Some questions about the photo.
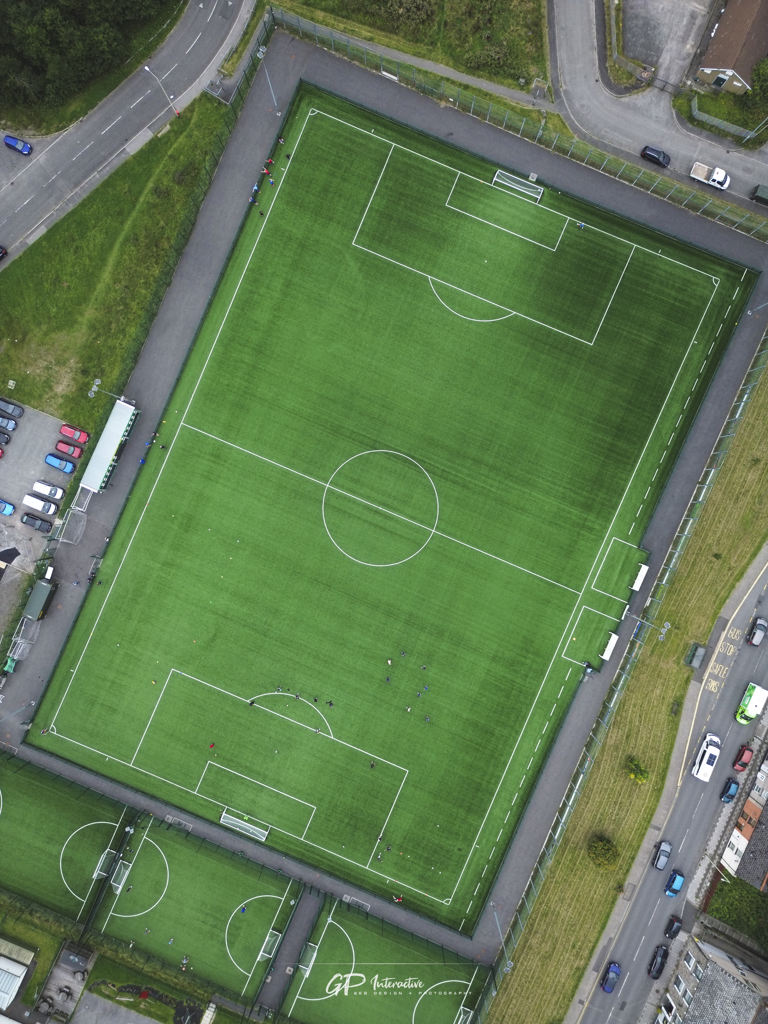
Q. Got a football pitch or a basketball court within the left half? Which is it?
football pitch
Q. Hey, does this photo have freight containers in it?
Yes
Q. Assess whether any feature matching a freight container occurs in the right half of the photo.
No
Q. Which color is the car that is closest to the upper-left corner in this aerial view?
blue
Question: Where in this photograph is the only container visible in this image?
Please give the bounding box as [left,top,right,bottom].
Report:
[22,578,59,621]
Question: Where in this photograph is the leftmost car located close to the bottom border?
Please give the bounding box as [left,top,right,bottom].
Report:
[601,961,619,992]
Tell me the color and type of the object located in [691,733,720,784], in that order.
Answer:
white vehicle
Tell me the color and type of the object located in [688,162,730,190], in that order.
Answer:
white truck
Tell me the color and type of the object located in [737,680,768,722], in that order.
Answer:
white van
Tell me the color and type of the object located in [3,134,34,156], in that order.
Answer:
blue car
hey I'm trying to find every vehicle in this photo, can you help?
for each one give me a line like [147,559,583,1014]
[0,429,11,444]
[58,423,90,444]
[0,414,17,431]
[747,618,766,646]
[639,145,671,169]
[0,397,25,416]
[33,479,65,500]
[652,840,670,871]
[601,961,619,992]
[733,745,753,771]
[664,914,683,939]
[720,777,740,803]
[54,439,84,458]
[737,680,768,722]
[44,453,76,473]
[21,493,58,515]
[20,512,52,533]
[3,134,34,156]
[691,733,720,784]
[664,870,684,896]
[0,500,16,516]
[688,162,730,190]
[648,946,668,979]
[0,244,10,263]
